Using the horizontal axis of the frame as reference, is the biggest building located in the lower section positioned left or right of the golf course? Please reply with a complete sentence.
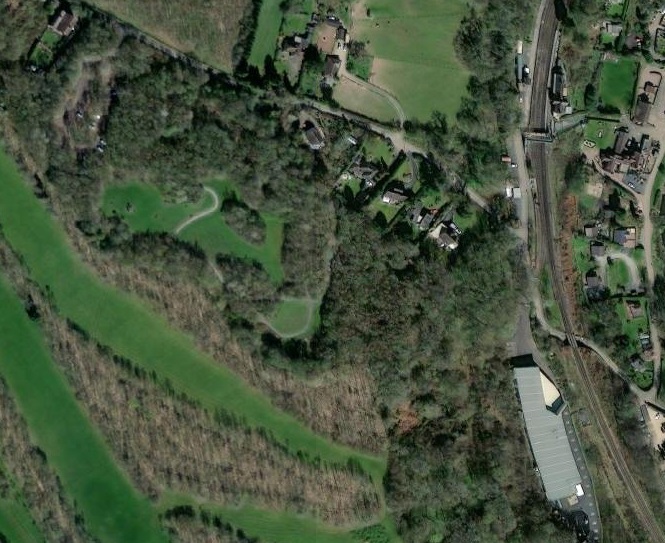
In the image, the biggest building located in the lower section sits on the right side of the golf course.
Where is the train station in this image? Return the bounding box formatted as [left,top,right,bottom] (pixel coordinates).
[527,0,557,128]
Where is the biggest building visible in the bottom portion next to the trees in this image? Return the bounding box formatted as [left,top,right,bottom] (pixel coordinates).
[514,367,581,501]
